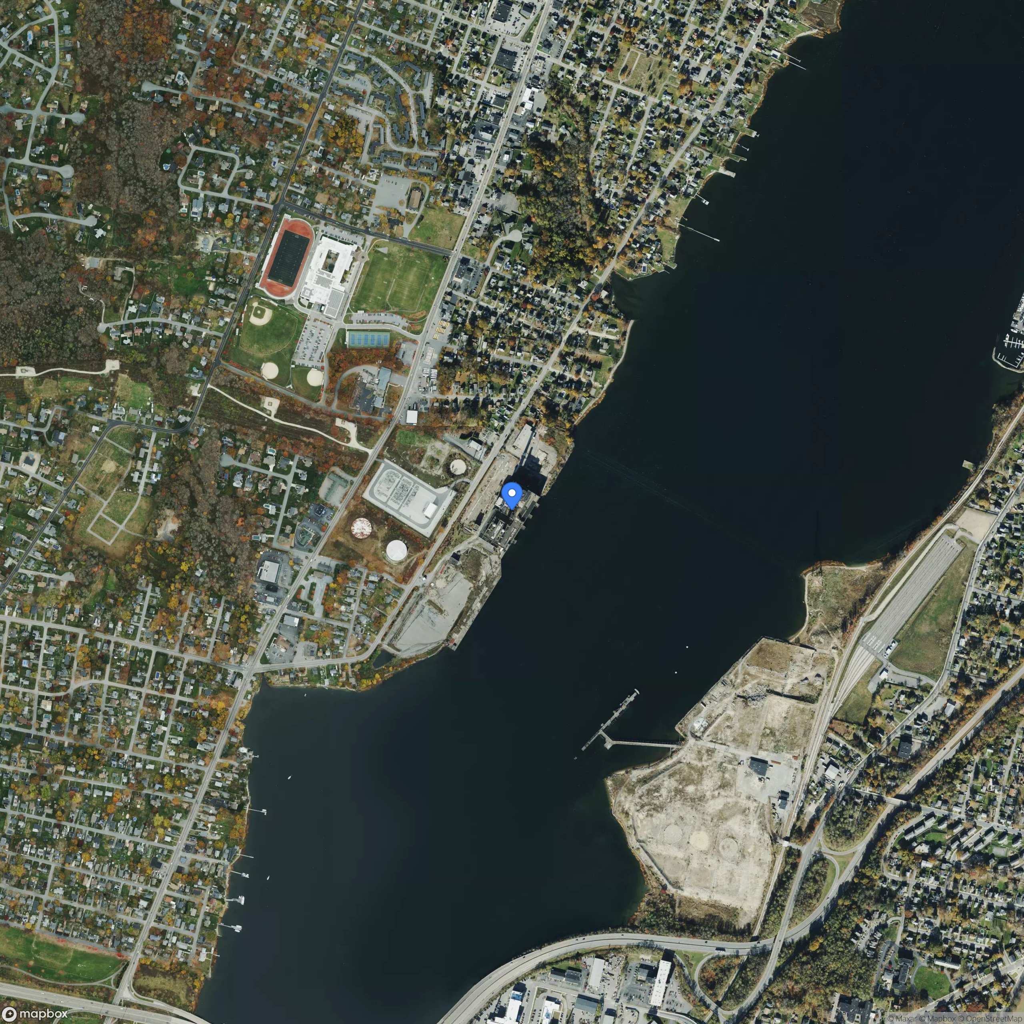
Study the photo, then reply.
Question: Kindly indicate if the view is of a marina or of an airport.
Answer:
marina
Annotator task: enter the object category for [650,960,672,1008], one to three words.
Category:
building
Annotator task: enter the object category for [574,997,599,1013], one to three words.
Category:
building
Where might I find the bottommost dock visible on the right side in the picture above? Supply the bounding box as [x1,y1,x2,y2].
[582,693,681,750]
